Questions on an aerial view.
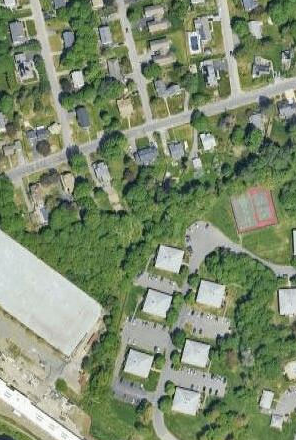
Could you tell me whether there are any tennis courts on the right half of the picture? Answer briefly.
Yes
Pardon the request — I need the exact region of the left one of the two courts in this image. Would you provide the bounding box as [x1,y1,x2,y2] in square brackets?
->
[231,192,260,233]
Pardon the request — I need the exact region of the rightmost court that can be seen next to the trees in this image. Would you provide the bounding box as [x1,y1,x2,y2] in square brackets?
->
[252,188,277,226]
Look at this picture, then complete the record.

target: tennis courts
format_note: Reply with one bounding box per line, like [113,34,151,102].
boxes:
[231,192,260,233]
[252,188,277,226]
